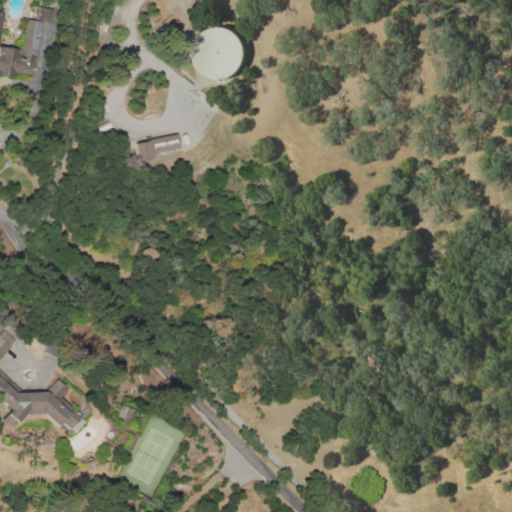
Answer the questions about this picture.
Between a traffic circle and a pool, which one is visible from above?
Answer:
pool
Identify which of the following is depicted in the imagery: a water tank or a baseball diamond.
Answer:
water tank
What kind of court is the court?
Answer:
tennis court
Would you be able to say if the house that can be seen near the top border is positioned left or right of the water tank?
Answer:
on the left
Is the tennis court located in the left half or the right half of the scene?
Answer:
left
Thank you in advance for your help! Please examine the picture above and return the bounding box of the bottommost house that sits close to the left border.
[0,368,92,436]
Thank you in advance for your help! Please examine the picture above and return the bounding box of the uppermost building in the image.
[0,6,56,78]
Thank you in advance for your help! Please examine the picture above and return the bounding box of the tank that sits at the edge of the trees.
[192,26,244,79]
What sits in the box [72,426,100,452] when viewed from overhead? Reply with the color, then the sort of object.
white swimming pool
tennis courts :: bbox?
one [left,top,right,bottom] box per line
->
[120,417,184,496]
